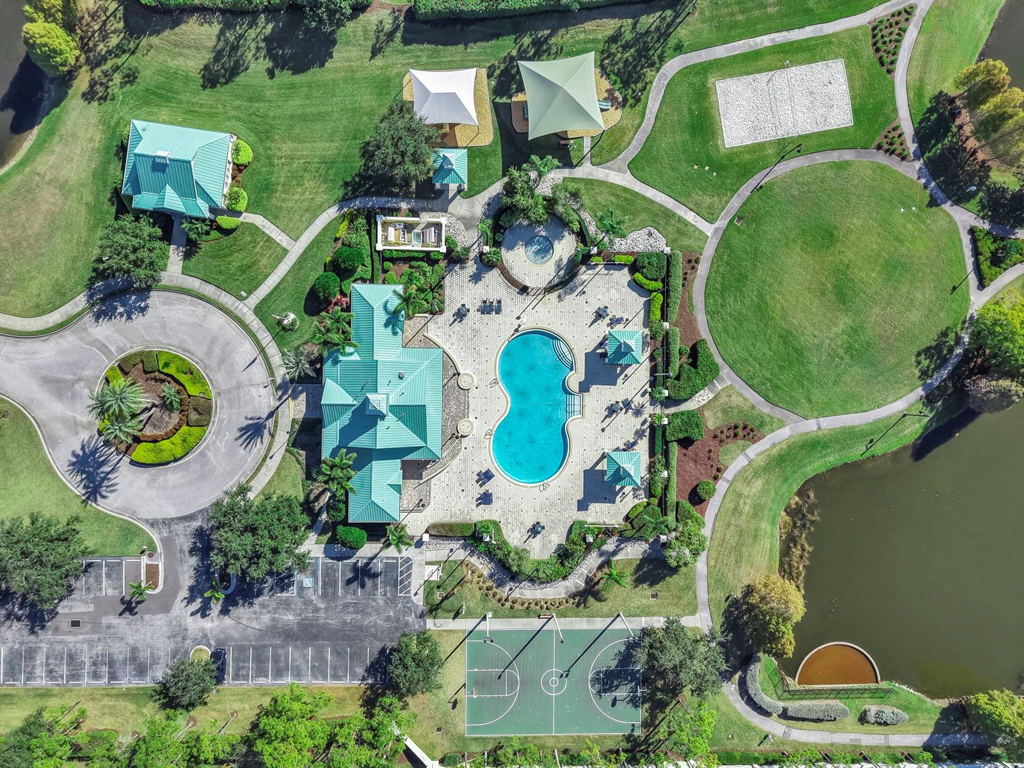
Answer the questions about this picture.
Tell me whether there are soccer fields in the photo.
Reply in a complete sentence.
No, I can see no soccer field in this picture.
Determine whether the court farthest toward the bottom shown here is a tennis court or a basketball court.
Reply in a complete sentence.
Looking closely, the court farthest toward the bottom is a basketball court.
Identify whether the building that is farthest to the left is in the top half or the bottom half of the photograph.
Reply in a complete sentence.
The building that is farthest to the left is in the top half of the image.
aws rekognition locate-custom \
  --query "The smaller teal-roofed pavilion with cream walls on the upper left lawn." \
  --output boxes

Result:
[122,119,235,221]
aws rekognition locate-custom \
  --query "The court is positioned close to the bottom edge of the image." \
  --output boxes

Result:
[466,630,641,735]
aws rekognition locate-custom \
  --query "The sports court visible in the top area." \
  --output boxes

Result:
[715,58,855,148]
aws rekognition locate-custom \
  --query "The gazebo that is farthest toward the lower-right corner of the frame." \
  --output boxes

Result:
[604,450,642,487]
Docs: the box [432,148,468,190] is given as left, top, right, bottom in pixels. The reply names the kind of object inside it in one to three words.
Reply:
gazebo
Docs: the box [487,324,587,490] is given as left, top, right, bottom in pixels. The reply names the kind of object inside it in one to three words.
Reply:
swimming pool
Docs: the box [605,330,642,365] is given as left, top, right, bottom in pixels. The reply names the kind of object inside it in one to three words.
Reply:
gazebo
